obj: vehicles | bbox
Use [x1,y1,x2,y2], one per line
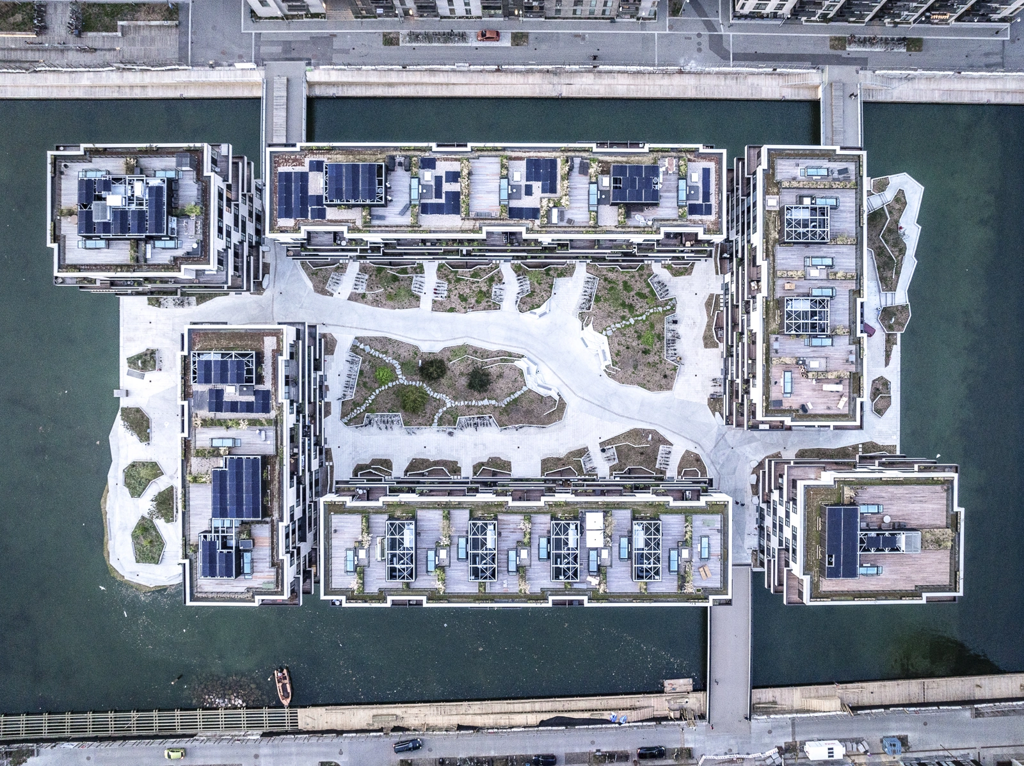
[533,756,556,766]
[638,748,665,762]
[394,740,420,756]
[477,27,500,41]
[163,749,184,762]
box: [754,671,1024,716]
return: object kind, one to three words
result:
pier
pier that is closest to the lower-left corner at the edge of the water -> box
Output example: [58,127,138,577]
[0,704,298,740]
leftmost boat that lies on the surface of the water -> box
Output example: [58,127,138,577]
[274,666,291,707]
